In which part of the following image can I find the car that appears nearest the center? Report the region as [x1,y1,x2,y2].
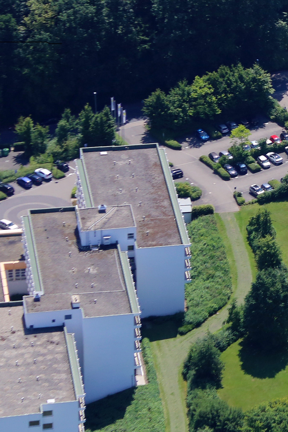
[171,165,189,177]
